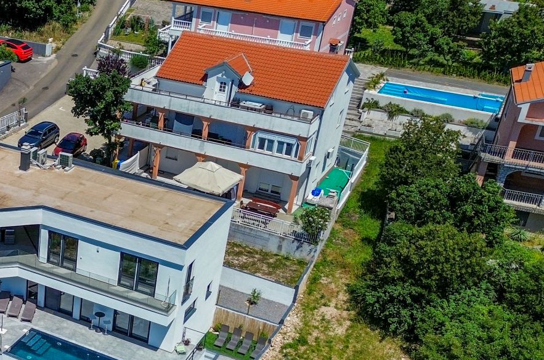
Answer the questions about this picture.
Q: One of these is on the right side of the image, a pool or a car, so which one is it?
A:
pool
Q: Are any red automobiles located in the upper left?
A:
Yes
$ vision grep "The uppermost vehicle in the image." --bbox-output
[0,40,37,59]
